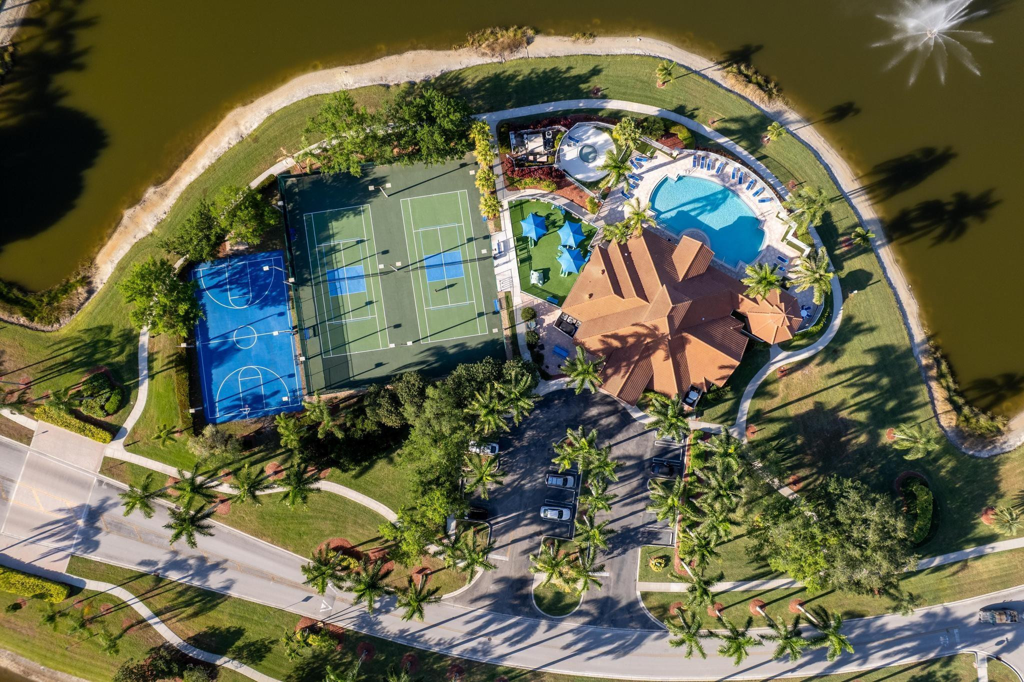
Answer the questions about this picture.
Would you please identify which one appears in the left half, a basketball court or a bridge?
basketball court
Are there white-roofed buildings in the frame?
No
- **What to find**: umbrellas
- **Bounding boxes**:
[520,213,548,241]
[558,221,586,248]
[557,247,586,274]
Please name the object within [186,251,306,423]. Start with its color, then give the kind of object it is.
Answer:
blue basketball court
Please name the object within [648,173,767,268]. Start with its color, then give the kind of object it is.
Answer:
blue swimming pool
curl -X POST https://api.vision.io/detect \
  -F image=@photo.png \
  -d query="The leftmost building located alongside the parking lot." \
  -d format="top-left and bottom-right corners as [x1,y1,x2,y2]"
[561,225,763,406]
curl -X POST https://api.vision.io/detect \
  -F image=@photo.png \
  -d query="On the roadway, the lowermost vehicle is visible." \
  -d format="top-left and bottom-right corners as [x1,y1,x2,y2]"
[979,607,1019,625]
